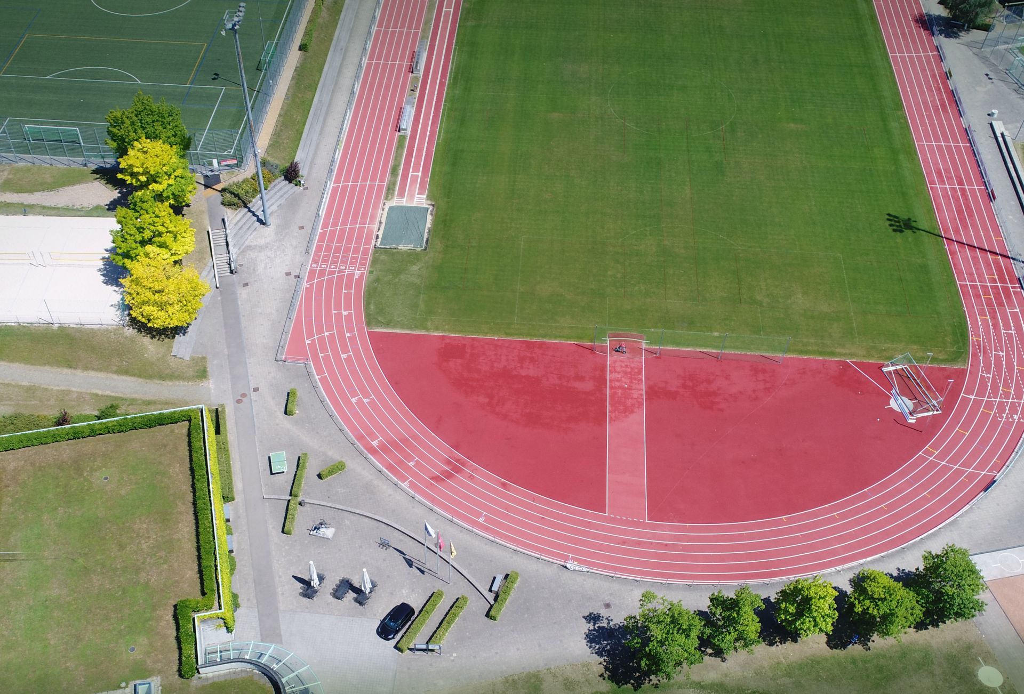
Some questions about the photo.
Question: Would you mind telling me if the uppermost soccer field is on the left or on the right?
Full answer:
It is on the left.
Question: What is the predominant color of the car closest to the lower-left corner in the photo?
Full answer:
From above, the car closest to the lower-left corner appears black.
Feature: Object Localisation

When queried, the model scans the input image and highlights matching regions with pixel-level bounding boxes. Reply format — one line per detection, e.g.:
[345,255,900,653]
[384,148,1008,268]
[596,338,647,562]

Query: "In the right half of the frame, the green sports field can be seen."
[365,0,970,368]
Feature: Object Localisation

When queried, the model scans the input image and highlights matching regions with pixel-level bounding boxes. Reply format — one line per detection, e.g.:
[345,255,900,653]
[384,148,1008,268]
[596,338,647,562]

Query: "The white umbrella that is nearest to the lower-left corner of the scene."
[307,561,319,591]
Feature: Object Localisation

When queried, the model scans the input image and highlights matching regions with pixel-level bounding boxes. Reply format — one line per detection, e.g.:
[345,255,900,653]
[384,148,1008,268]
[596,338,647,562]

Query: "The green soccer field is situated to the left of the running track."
[0,0,307,174]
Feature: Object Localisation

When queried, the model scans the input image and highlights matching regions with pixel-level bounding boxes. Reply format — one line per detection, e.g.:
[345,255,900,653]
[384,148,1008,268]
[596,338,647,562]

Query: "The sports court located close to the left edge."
[0,215,127,326]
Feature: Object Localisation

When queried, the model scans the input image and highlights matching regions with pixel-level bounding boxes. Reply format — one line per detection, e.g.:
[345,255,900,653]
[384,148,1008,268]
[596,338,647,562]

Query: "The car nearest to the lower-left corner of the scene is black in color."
[377,600,416,642]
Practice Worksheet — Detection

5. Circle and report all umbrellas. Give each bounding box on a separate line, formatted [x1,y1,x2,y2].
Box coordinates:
[307,561,319,591]
[360,569,373,599]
